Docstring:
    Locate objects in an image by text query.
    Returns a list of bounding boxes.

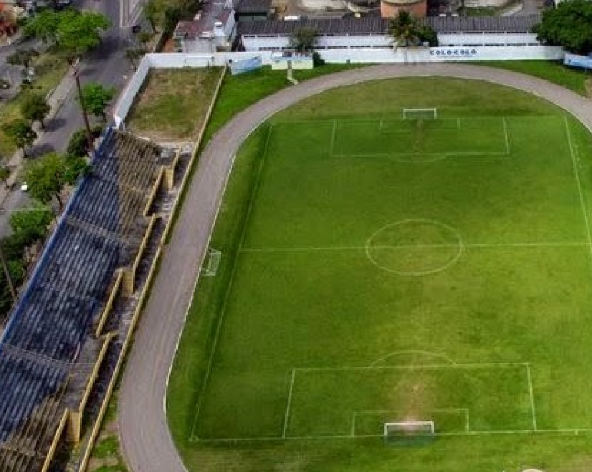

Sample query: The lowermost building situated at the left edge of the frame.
[0,22,28,40]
